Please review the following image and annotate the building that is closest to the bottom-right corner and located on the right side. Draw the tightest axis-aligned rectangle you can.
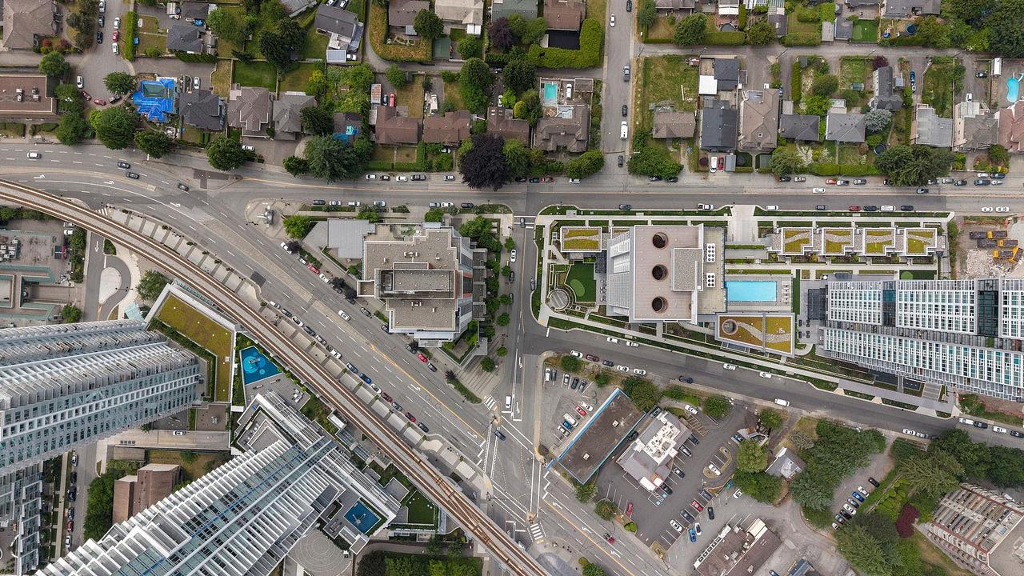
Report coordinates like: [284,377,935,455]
[929,484,1024,576]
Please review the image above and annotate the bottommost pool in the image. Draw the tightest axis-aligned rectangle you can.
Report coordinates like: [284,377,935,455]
[342,500,382,534]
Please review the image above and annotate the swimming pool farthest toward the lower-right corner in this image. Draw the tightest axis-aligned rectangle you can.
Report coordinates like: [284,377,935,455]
[725,280,777,302]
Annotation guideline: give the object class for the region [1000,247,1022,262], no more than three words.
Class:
work vehicle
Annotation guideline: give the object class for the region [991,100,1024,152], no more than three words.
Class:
house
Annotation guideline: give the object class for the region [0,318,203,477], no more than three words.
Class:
building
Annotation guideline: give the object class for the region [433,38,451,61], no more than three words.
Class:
shed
